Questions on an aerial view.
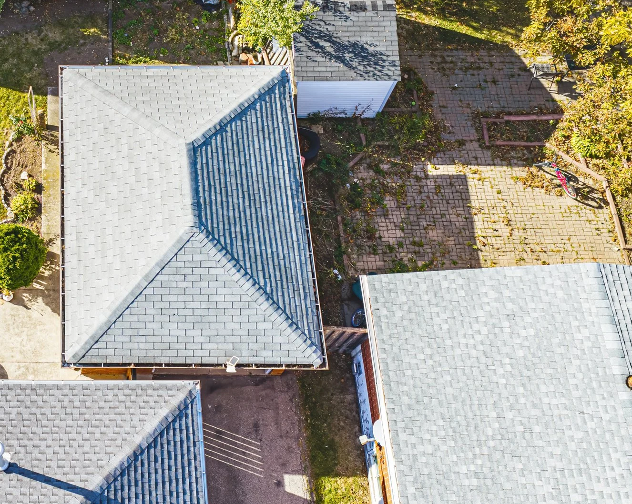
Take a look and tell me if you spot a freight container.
No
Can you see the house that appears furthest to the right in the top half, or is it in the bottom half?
bottom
